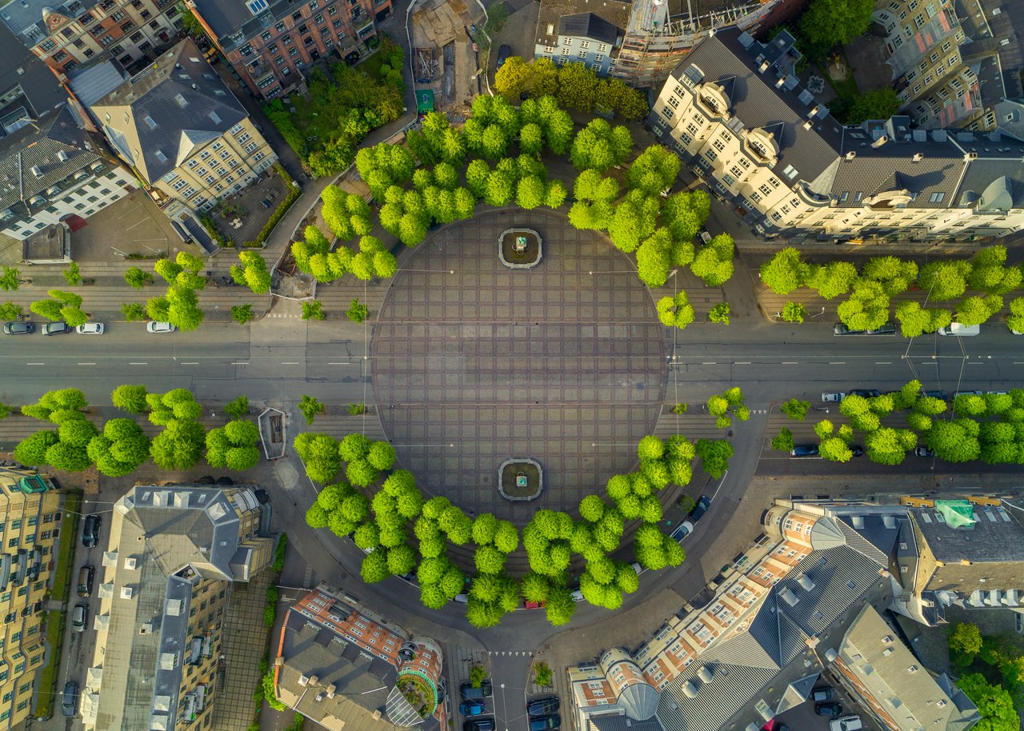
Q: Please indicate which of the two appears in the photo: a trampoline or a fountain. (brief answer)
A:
fountain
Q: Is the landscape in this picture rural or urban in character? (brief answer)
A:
urban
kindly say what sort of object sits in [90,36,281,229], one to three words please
house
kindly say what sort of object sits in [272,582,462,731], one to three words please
house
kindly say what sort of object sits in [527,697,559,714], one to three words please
car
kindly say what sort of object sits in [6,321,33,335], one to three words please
car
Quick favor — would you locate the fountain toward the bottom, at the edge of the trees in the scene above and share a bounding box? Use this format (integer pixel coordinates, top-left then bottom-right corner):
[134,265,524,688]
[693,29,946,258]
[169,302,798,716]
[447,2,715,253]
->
[497,458,545,502]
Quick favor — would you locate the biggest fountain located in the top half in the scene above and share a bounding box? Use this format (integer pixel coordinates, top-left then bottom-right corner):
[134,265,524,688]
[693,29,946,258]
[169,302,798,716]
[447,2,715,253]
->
[497,226,543,269]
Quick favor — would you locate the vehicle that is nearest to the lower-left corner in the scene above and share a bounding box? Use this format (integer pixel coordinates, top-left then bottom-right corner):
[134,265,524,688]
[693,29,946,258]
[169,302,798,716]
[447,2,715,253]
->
[62,681,80,713]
